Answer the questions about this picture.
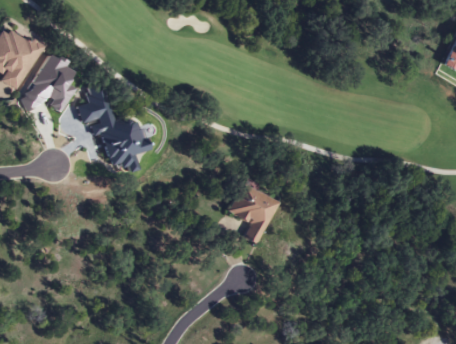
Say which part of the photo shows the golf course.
top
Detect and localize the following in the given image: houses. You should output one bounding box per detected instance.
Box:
[444,40,456,68]
[230,187,280,242]
[20,52,80,116]
[0,30,44,88]
[78,82,156,172]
